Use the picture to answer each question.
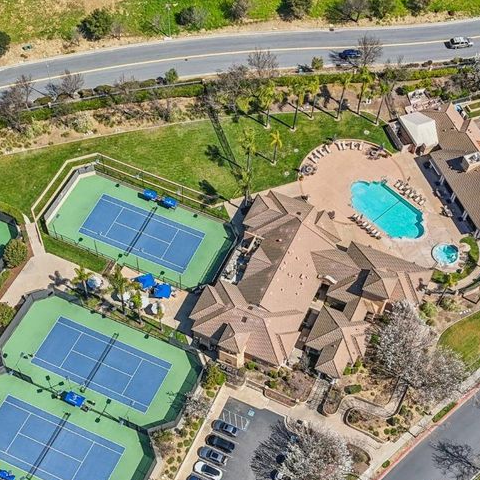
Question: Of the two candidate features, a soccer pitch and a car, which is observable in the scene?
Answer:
car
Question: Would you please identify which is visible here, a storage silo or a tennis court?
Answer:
tennis court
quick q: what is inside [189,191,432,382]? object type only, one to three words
building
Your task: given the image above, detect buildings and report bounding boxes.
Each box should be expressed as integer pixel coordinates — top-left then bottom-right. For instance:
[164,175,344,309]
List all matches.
[189,191,432,382]
[403,99,480,230]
